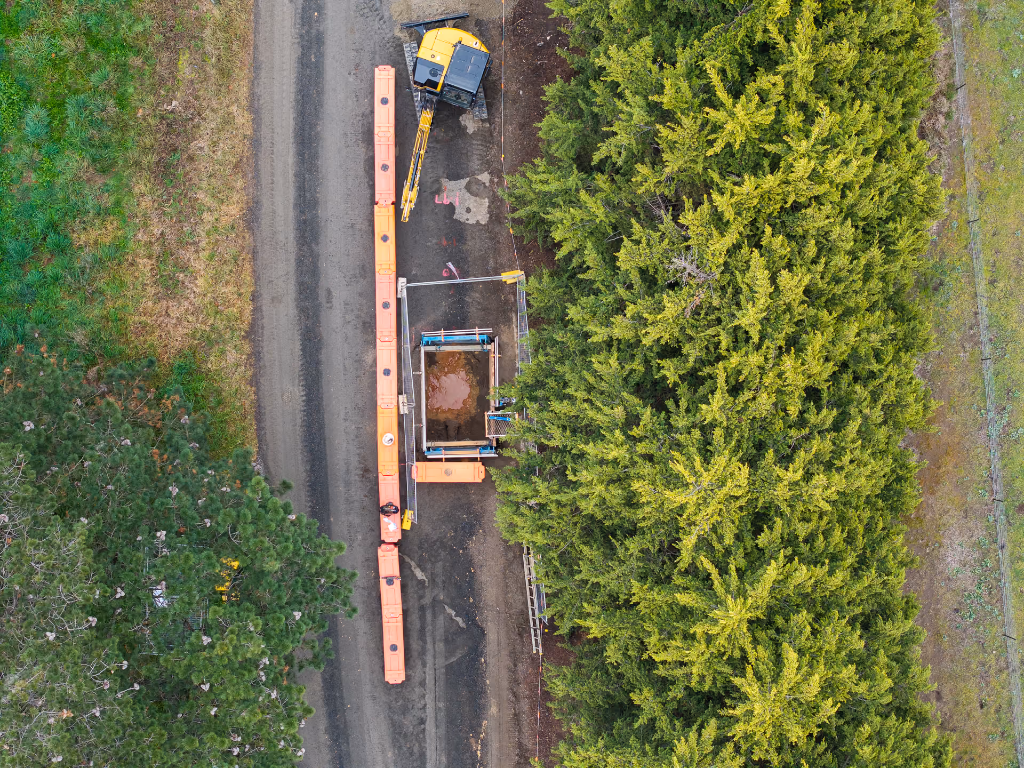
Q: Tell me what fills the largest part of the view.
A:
trees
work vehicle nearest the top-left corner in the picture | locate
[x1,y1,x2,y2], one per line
[399,10,494,222]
